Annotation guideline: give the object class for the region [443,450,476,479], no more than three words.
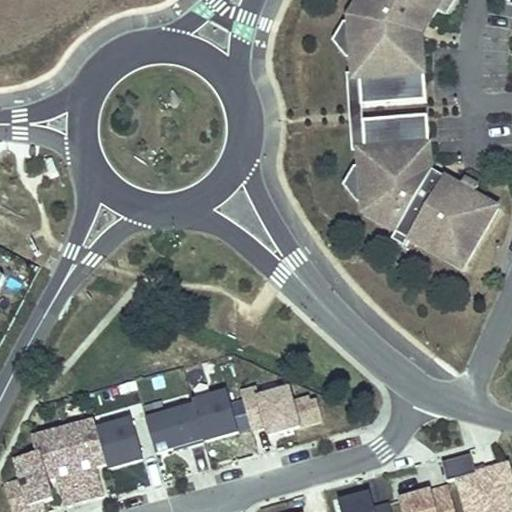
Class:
building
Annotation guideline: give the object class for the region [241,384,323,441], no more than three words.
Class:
house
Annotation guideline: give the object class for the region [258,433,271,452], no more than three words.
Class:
vehicle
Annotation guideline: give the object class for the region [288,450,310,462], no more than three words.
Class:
vehicle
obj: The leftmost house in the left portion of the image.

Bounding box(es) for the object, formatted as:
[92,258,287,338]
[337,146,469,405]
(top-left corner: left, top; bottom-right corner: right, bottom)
[3,450,52,512]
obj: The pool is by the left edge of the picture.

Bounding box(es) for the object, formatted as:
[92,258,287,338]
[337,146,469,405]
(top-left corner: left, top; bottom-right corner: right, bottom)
[4,277,22,292]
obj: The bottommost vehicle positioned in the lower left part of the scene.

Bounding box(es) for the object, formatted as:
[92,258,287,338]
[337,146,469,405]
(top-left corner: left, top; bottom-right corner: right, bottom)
[122,496,144,508]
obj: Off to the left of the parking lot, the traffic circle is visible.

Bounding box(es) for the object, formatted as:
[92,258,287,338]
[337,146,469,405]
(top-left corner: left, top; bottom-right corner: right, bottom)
[30,0,281,259]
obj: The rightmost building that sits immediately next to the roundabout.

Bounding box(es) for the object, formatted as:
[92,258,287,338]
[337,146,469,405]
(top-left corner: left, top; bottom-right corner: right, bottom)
[332,0,501,272]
